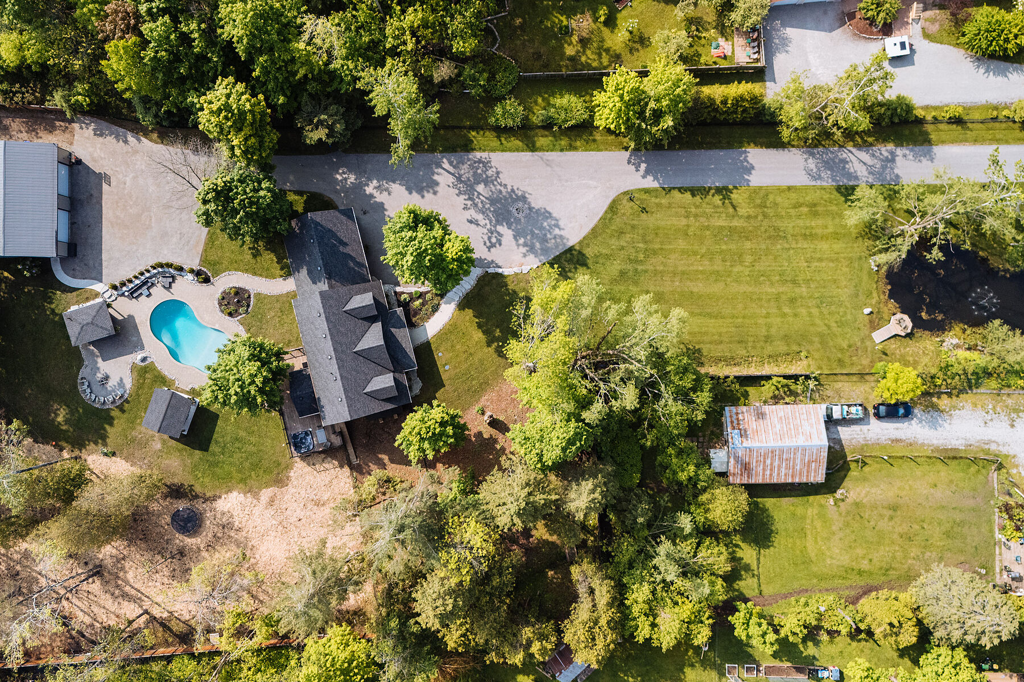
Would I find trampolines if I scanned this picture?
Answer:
Yes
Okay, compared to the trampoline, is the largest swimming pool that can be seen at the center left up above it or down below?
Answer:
above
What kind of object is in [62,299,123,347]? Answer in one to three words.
building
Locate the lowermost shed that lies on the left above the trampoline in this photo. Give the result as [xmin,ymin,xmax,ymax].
[143,387,200,438]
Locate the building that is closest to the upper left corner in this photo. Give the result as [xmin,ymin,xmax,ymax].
[0,139,71,258]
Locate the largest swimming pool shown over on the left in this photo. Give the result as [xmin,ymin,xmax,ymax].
[147,297,235,376]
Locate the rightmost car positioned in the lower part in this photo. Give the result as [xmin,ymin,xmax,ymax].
[873,402,913,421]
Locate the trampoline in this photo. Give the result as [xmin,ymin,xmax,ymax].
[171,506,203,536]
